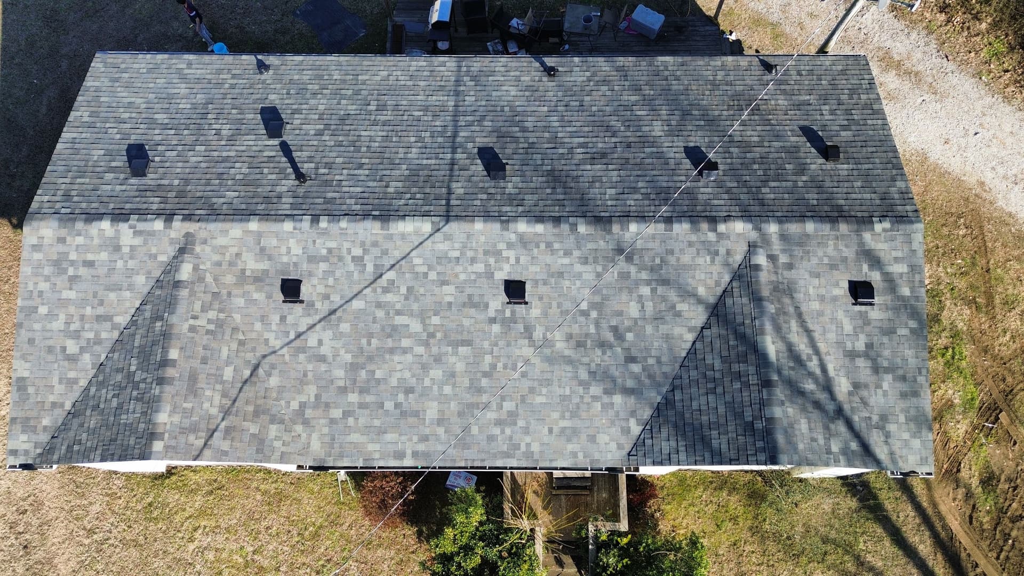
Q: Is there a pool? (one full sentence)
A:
No, there is no pool in the image.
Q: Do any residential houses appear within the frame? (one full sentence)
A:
Yes, the photo shows a residential house.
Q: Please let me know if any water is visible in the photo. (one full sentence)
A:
No, water can't be seen anywhere here.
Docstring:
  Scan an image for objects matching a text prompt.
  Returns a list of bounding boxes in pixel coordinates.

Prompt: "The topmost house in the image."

[6,53,934,484]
